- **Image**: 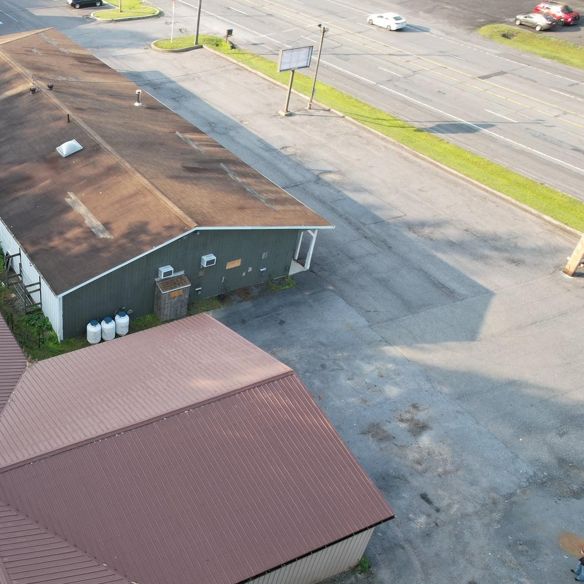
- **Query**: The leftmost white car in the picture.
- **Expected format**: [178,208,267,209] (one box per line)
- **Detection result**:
[367,10,409,30]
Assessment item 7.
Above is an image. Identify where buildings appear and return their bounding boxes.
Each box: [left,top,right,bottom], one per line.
[0,310,400,584]
[0,29,334,339]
